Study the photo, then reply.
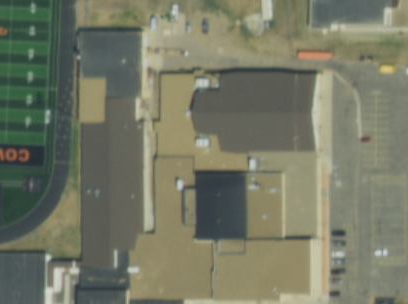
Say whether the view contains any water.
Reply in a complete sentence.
No, there's no water in this view.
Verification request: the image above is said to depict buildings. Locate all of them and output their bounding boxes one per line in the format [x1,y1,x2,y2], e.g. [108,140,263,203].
[310,0,395,28]
[128,72,324,304]
[0,252,52,304]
